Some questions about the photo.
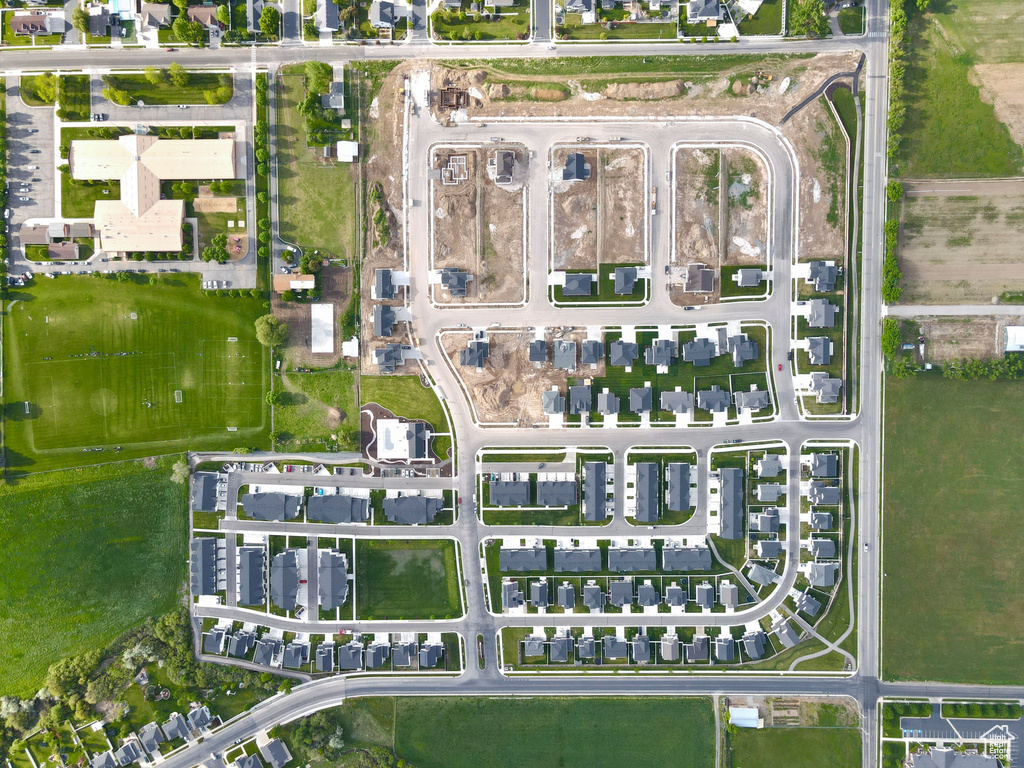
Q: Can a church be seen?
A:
Yes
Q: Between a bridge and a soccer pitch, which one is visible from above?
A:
soccer pitch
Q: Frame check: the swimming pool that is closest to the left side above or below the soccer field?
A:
above it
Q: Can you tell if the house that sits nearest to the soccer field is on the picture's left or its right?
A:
left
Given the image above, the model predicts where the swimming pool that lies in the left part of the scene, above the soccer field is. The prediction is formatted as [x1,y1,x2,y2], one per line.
[108,0,131,20]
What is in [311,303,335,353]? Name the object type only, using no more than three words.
barn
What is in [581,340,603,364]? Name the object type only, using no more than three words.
house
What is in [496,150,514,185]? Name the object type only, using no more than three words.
house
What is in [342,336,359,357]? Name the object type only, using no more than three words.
building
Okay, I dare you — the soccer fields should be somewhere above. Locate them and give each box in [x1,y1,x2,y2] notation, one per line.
[2,273,272,479]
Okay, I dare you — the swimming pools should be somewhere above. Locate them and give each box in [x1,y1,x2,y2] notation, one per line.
[108,0,131,20]
[385,428,394,451]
